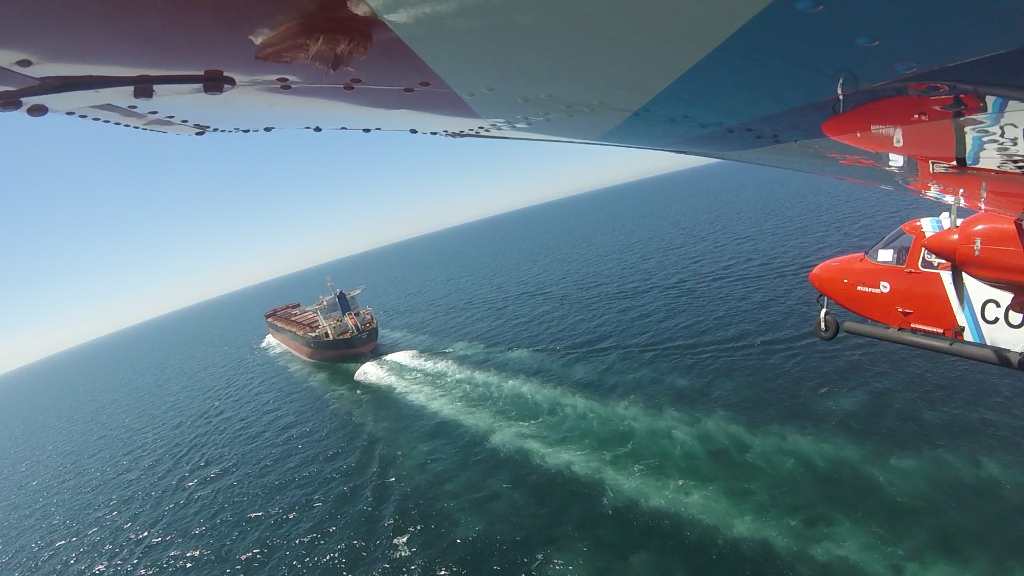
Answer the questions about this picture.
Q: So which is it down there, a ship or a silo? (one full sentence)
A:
This aerial view contains a ship.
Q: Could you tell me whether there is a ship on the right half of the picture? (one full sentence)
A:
No, looking on the right half of the picture, there is no ship.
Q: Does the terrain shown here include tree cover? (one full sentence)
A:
No, tree cover can't be seen anywhere here.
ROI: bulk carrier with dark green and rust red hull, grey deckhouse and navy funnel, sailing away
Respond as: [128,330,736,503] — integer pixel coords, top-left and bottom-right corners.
[267,275,380,360]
